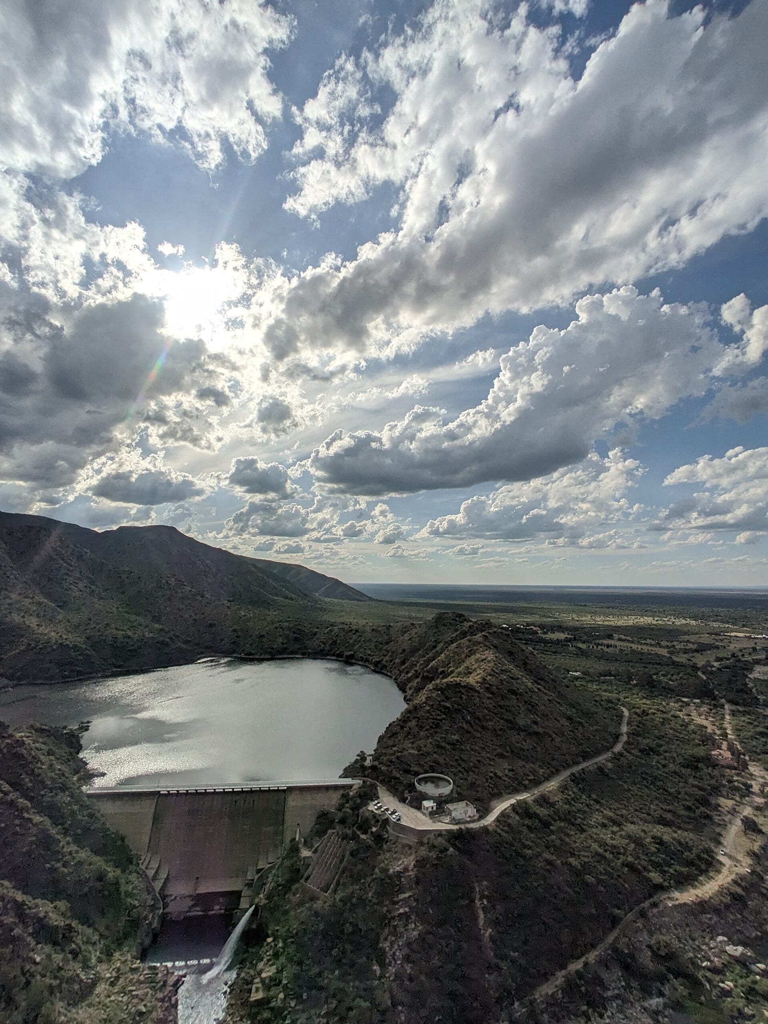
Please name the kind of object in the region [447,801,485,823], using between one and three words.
building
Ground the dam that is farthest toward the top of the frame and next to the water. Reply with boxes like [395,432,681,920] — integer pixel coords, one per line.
[87,773,371,914]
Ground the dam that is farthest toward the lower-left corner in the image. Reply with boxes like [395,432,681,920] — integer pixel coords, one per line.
[154,960,217,980]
